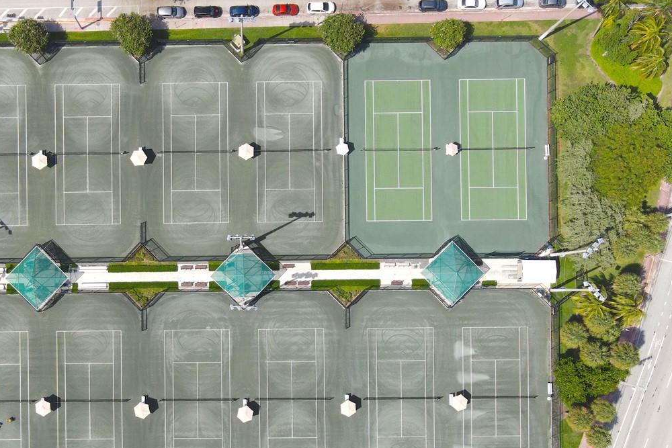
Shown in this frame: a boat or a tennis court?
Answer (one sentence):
The image shows a tennis court.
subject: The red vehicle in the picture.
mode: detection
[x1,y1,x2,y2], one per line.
[271,2,299,17]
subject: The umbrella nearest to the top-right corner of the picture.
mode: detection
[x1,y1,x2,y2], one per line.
[443,142,459,156]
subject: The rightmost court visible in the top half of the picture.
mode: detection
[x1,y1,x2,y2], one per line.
[445,42,548,257]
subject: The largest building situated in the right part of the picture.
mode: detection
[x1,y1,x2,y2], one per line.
[422,241,484,305]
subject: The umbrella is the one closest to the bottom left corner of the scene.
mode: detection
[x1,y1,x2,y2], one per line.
[35,398,51,415]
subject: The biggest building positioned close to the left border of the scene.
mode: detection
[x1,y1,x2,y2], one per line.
[5,247,68,311]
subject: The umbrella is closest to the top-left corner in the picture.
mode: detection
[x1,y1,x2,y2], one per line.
[33,151,48,169]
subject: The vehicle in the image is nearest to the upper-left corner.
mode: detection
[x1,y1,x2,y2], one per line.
[158,5,186,20]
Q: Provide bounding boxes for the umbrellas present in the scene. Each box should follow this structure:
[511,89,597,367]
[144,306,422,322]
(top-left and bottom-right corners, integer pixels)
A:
[236,405,253,422]
[35,398,51,415]
[130,149,148,166]
[340,399,356,415]
[450,392,466,410]
[133,401,150,419]
[443,142,459,156]
[336,141,349,156]
[238,143,254,161]
[33,151,48,169]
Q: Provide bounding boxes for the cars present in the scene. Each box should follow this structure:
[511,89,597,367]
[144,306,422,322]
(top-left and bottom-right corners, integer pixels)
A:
[308,2,334,16]
[271,2,299,17]
[495,0,524,10]
[418,0,447,13]
[158,5,186,20]
[456,0,485,12]
[195,5,222,20]
[231,3,259,19]
[538,0,567,8]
